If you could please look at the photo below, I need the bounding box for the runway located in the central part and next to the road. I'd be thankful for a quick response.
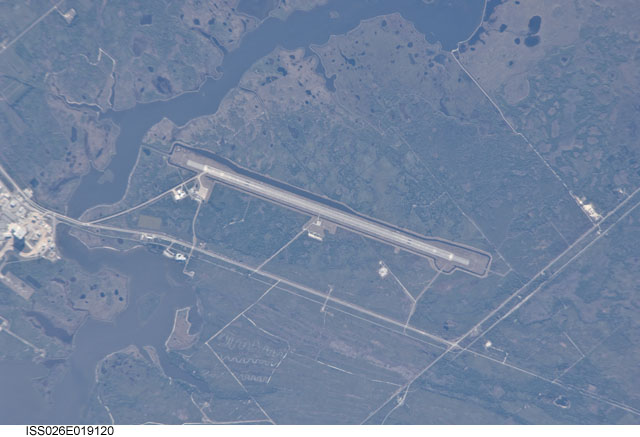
[204,165,452,259]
